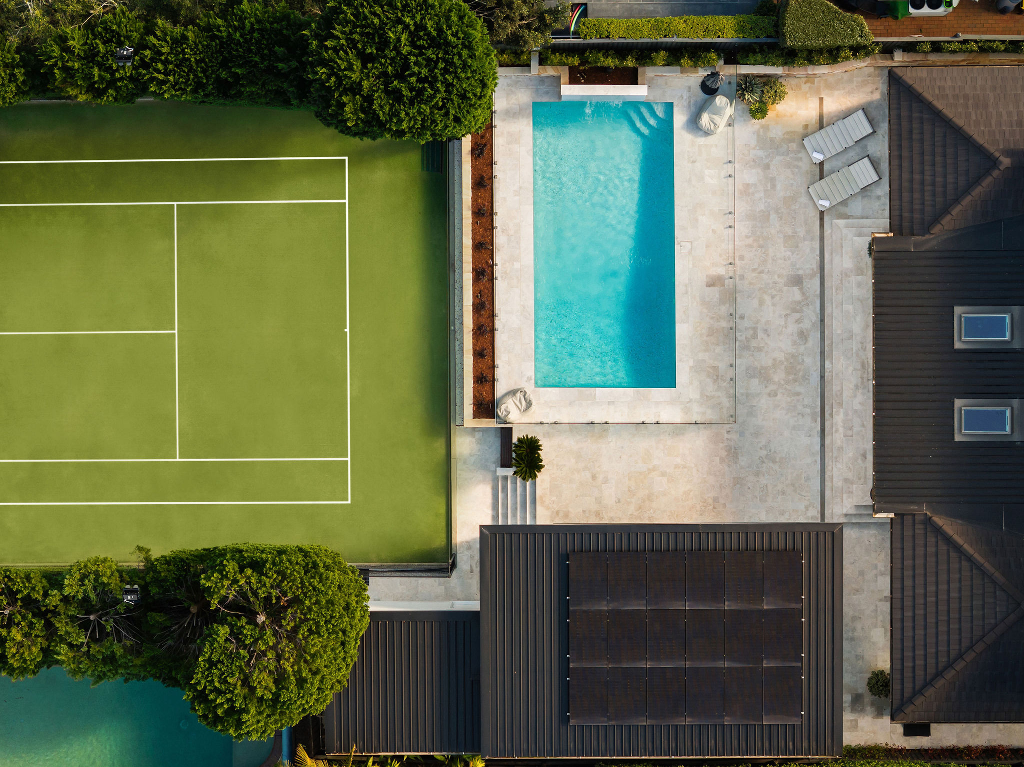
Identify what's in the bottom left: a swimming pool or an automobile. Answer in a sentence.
The one visible in the bottom left is a swimming pool.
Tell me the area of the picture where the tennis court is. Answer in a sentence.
The tennis court is located in the left region of the scene.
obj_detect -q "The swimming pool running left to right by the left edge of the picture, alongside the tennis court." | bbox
[0,650,273,767]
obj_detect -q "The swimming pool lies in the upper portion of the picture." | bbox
[520,89,687,400]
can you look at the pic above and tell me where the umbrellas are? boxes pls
[701,67,724,95]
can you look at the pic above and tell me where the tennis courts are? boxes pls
[0,100,448,565]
